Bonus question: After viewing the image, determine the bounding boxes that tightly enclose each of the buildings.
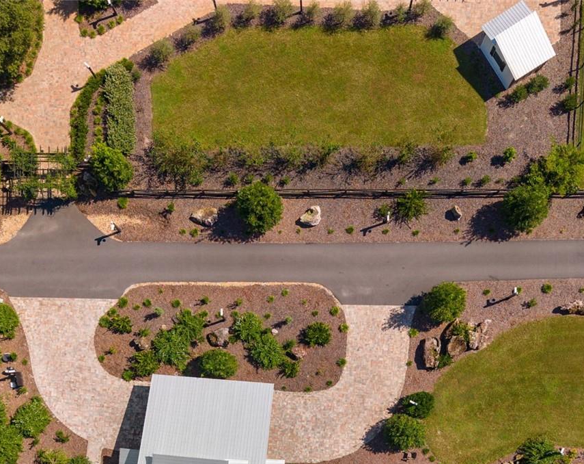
[119,373,286,464]
[480,0,556,88]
